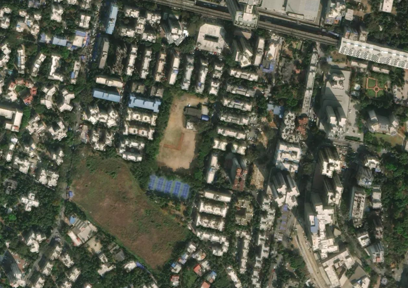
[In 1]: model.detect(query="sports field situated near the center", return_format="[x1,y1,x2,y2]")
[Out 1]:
[158,98,195,168]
